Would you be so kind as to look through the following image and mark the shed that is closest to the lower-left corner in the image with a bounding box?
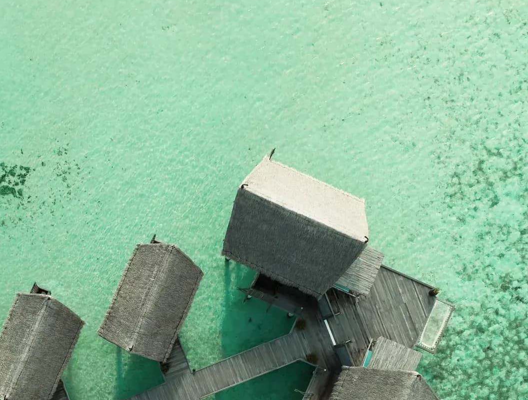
[0,282,86,400]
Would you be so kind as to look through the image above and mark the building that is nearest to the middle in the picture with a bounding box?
[221,148,370,320]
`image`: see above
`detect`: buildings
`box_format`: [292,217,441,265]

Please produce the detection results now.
[97,235,205,361]
[303,366,438,400]
[221,148,370,320]
[0,282,86,400]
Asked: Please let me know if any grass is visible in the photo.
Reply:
No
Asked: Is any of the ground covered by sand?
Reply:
Yes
